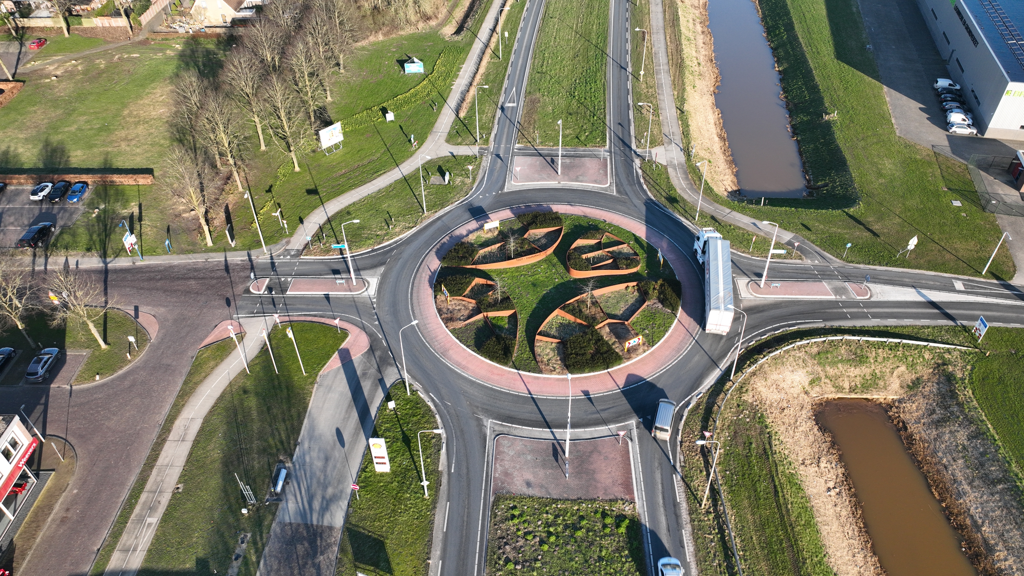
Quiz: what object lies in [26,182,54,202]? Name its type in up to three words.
car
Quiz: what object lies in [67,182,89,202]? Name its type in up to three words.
car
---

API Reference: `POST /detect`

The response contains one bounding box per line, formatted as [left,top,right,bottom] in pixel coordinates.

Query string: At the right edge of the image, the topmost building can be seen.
[917,0,1024,141]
